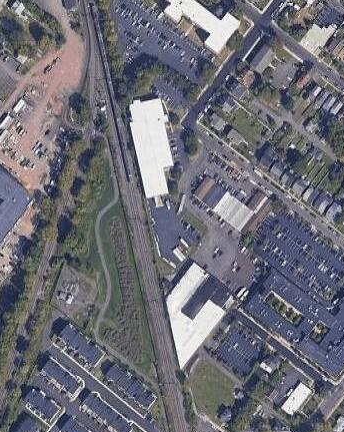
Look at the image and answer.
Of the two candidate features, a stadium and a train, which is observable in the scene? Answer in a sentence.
Looking from above, you can make out a train.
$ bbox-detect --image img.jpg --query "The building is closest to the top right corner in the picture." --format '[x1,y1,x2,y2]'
[317,2,344,26]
